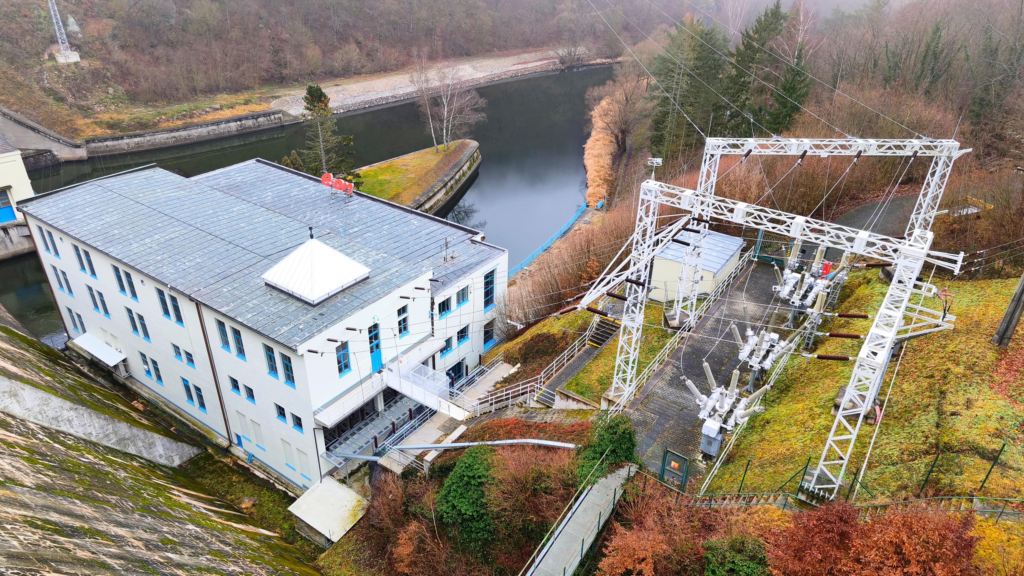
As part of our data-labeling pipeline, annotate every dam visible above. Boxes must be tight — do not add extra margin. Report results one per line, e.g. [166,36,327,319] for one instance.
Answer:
[0,304,326,576]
